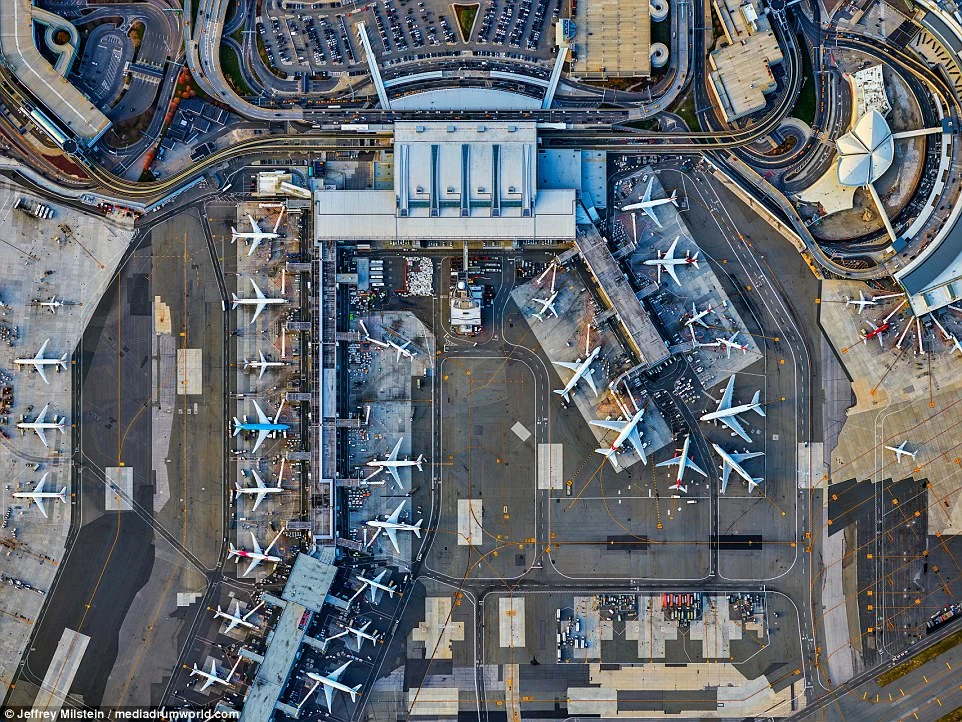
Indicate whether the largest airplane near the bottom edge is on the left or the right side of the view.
left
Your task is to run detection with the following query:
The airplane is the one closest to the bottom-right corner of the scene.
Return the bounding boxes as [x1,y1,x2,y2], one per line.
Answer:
[885,440,918,464]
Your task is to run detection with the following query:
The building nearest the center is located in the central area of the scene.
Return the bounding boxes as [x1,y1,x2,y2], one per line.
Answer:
[450,282,484,330]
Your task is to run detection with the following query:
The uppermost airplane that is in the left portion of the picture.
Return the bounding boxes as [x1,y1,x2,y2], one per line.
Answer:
[233,214,279,257]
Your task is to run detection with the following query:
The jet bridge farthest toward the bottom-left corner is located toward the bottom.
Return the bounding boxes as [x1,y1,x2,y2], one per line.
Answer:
[225,653,243,683]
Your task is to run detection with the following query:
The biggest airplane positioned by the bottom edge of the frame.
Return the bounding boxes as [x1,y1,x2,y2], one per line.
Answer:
[306,659,365,714]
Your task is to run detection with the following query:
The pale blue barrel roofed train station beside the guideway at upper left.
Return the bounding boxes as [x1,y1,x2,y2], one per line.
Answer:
[23,103,81,156]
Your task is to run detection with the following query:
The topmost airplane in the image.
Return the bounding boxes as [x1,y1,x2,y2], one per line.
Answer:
[622,176,678,227]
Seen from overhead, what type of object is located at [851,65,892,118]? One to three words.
building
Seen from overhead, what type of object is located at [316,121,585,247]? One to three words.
building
